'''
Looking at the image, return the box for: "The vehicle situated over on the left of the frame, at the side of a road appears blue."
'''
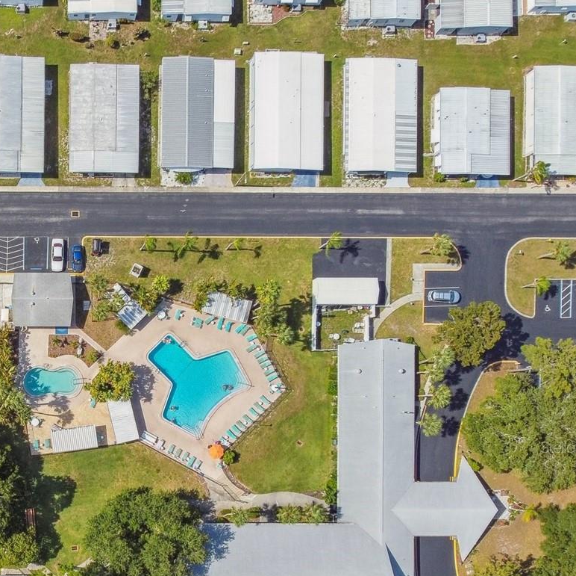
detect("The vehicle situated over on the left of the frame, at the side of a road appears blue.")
[71,245,84,273]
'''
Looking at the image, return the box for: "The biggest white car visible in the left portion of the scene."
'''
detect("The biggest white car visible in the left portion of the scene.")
[50,239,64,272]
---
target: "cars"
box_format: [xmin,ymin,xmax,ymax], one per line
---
[428,289,458,303]
[50,239,64,272]
[71,245,84,273]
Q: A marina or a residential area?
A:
residential area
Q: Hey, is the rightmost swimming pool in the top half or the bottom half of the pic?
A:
bottom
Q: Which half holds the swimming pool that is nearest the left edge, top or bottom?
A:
bottom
